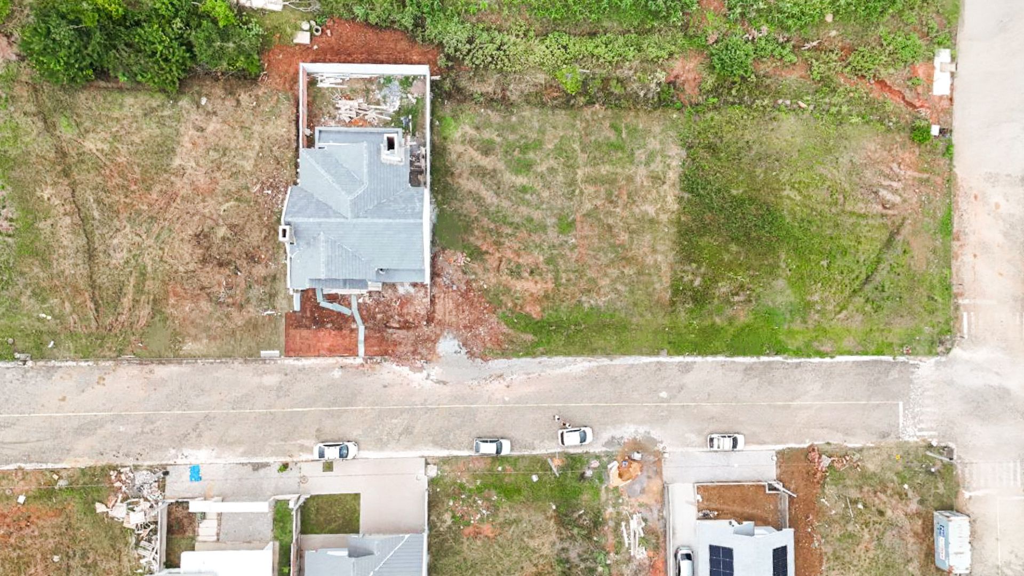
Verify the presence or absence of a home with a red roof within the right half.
No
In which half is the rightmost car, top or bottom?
bottom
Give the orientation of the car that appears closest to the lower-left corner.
from side to side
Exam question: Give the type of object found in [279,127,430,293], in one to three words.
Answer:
house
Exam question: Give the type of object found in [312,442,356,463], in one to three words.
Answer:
car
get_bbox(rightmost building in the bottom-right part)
[694,519,796,576]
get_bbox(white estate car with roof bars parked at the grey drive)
[709,434,746,455]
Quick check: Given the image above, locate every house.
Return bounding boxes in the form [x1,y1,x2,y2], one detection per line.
[293,533,424,576]
[694,519,796,576]
[279,127,430,293]
[158,540,279,576]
